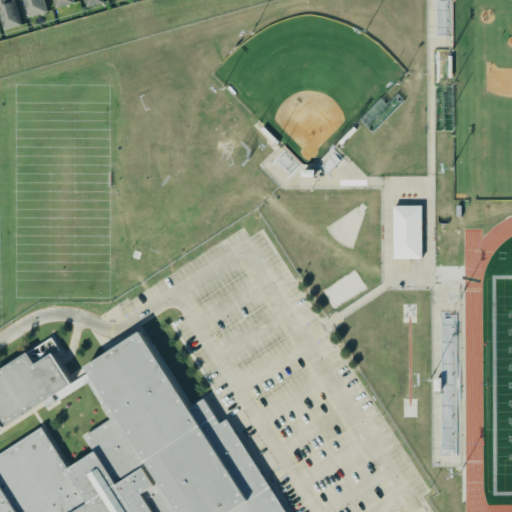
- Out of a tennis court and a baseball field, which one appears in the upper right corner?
baseball field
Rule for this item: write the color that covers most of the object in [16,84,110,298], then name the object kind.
green sports field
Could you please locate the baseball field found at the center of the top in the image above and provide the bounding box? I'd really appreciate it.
[214,15,406,164]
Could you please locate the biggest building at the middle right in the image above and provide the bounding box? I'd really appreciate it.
[394,206,423,260]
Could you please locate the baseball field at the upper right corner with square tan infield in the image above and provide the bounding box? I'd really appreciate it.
[456,0,512,198]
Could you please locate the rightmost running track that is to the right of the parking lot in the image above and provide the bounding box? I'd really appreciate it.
[466,216,512,512]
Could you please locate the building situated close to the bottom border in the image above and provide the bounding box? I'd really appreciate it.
[0,331,289,512]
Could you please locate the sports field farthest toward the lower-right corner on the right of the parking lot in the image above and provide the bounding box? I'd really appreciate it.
[484,236,512,504]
